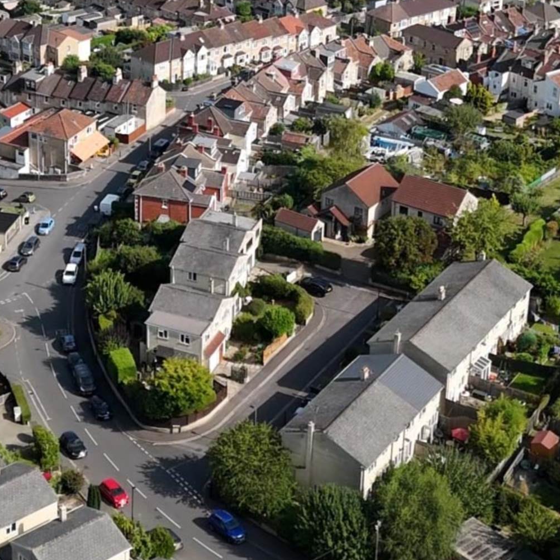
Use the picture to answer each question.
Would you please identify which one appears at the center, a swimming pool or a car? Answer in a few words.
car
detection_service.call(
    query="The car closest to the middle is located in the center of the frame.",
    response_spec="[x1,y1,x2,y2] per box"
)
[302,276,333,294]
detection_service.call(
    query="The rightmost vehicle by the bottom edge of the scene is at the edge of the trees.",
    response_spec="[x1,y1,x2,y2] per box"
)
[209,505,245,540]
